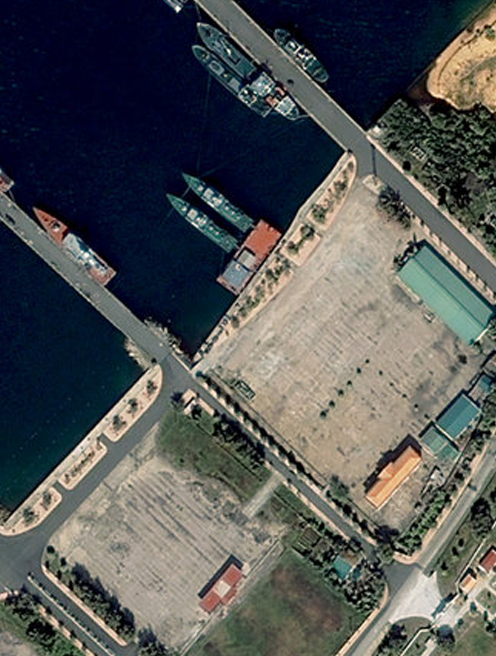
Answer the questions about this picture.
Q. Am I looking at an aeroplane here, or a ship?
ship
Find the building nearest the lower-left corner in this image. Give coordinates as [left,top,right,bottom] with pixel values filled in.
[199,565,246,611]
